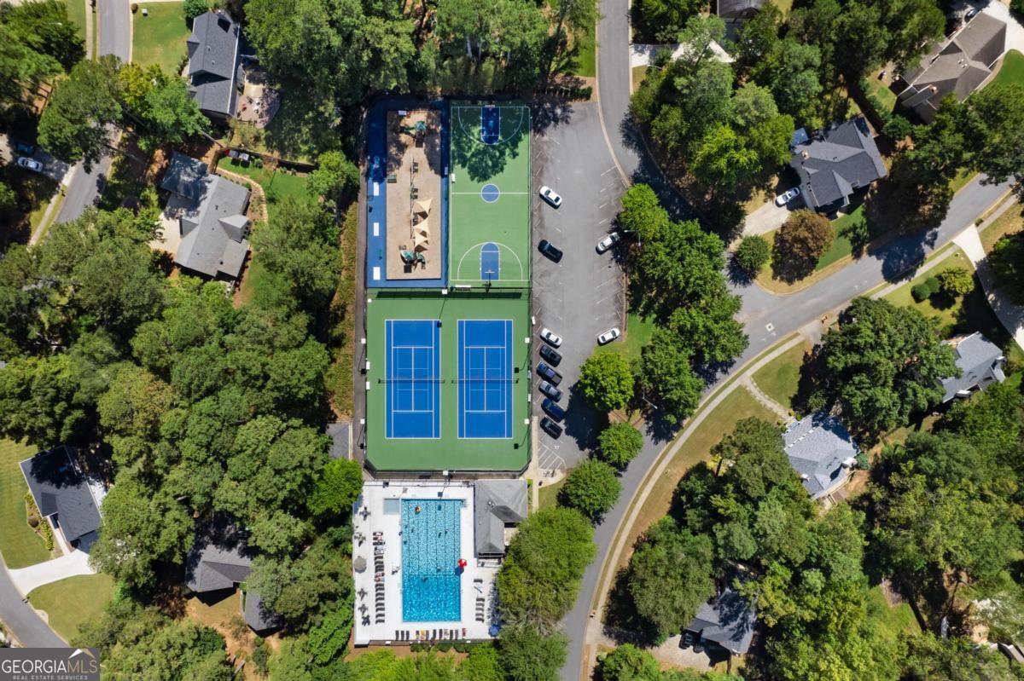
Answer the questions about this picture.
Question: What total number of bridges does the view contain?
0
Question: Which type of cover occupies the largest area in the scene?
trees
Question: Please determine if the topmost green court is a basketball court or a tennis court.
basketball court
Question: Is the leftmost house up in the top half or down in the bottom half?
bottom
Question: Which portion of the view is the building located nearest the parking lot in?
bottom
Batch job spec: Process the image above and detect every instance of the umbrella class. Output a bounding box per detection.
[354,558,367,571]
[458,557,467,568]
[489,625,501,637]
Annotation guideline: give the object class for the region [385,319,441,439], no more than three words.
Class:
tennis court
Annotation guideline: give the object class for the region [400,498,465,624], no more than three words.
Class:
swimming pool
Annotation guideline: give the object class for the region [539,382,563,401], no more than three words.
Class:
car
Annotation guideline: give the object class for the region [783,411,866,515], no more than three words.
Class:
house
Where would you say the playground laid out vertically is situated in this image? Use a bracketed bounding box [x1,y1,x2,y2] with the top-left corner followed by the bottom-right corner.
[367,98,448,287]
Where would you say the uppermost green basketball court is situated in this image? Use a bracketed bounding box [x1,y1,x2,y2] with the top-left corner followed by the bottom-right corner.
[449,100,530,287]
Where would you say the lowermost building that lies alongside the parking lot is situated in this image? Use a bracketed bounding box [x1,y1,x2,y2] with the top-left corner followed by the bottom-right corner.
[474,478,528,564]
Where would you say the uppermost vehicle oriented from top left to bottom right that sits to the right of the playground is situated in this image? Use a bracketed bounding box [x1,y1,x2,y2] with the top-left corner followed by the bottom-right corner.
[539,187,563,206]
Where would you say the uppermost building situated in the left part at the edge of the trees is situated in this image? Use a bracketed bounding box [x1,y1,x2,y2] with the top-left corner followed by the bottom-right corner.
[185,8,249,120]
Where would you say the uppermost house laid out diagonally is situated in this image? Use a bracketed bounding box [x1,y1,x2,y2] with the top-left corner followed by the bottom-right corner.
[889,11,1007,117]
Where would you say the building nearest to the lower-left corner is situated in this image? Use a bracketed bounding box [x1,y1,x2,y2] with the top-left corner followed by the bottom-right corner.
[19,445,100,542]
